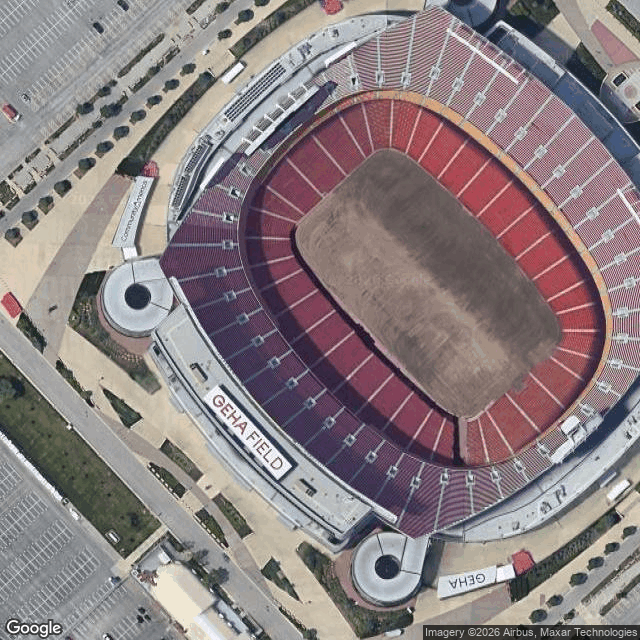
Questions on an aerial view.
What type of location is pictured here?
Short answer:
sports ground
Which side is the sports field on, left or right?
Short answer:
right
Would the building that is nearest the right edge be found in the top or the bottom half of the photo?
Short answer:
top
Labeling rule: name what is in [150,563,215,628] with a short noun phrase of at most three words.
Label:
building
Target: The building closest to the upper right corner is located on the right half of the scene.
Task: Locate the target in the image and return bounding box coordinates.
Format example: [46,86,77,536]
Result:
[601,60,640,125]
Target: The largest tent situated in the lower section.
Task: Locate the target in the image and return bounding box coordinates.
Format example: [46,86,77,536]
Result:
[512,550,535,575]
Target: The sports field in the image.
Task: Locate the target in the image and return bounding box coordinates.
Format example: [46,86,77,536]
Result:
[294,147,561,419]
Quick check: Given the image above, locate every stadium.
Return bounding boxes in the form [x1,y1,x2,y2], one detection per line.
[146,4,640,553]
